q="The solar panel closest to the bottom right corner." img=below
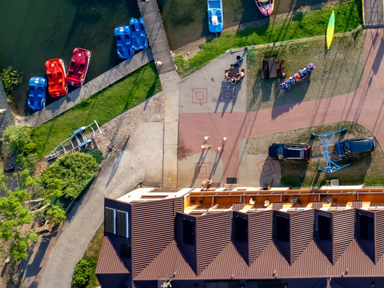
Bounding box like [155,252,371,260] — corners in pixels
[358,211,372,243]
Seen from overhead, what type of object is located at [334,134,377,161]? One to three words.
car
